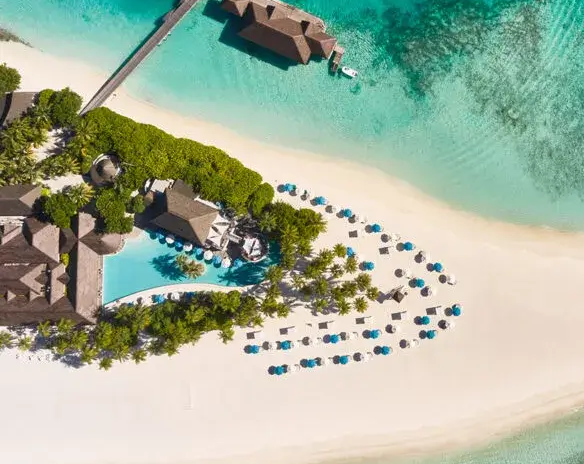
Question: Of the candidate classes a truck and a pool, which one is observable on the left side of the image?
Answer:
pool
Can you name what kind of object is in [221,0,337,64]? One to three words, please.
building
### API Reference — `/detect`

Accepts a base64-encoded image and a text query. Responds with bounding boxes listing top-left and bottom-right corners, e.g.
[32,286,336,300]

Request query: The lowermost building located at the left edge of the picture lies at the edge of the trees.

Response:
[0,212,122,326]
